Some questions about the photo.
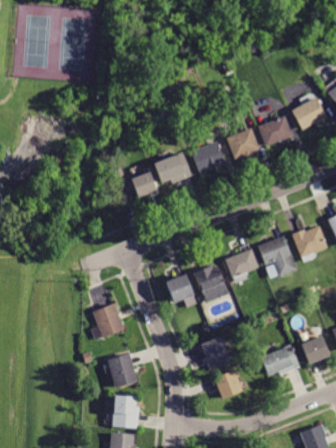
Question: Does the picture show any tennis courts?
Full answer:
Yes, looking at the shot, I can spot a tennis court.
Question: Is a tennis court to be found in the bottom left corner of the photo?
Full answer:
No, there's no tennis court to be seen in the bottom left corner of the photo.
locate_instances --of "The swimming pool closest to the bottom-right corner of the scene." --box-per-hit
[290,314,307,330]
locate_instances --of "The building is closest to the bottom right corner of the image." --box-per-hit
[300,424,330,448]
